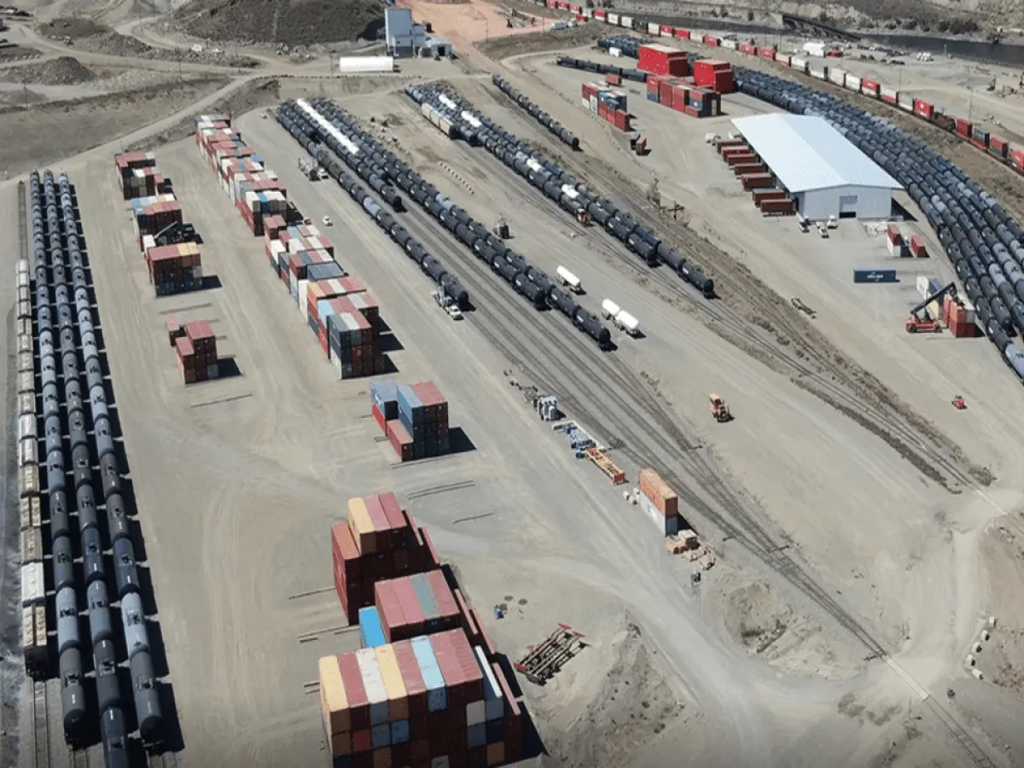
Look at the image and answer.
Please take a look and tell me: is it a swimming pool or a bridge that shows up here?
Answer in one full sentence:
Of the two, only a bridge appears.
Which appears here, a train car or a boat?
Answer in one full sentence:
This aerial view contains a train car.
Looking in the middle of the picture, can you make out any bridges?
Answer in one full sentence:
No, no bridge appears in the middle of the picture.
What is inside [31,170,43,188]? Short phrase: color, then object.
gray rail car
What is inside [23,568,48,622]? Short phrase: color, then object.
white rail car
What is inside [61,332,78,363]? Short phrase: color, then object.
gray rail car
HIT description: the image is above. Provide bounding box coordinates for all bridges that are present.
[766,10,864,45]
